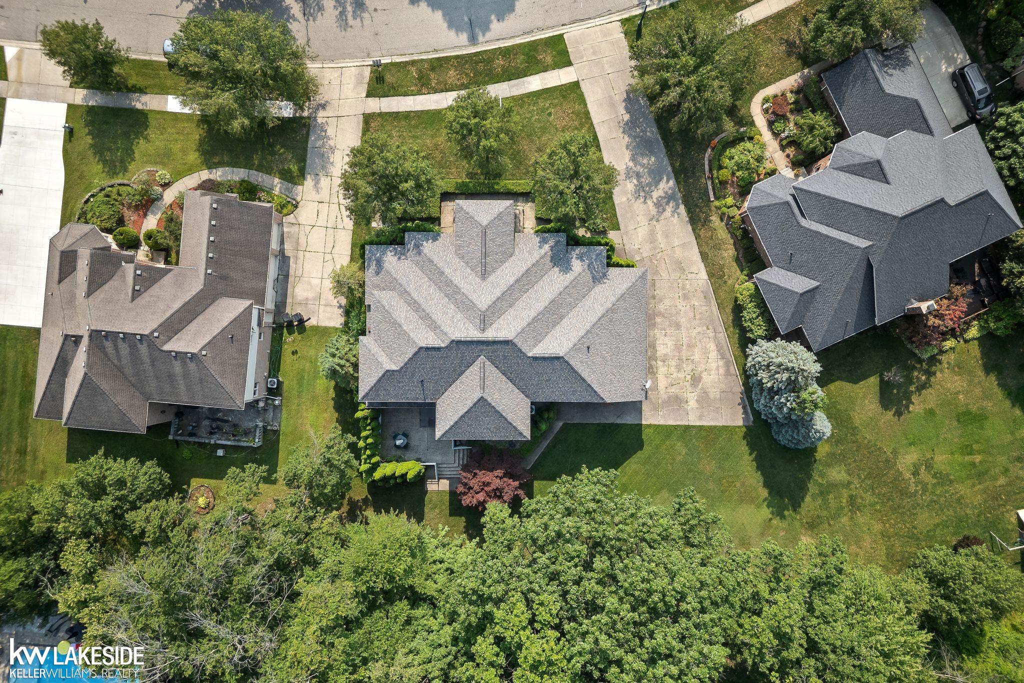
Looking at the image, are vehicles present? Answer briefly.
Yes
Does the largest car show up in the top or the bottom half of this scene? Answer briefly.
top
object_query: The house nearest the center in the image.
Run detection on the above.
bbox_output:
[358,199,652,441]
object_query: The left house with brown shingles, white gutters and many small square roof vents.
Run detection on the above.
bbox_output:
[33,189,283,434]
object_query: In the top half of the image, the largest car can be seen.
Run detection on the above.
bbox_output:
[952,58,999,124]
